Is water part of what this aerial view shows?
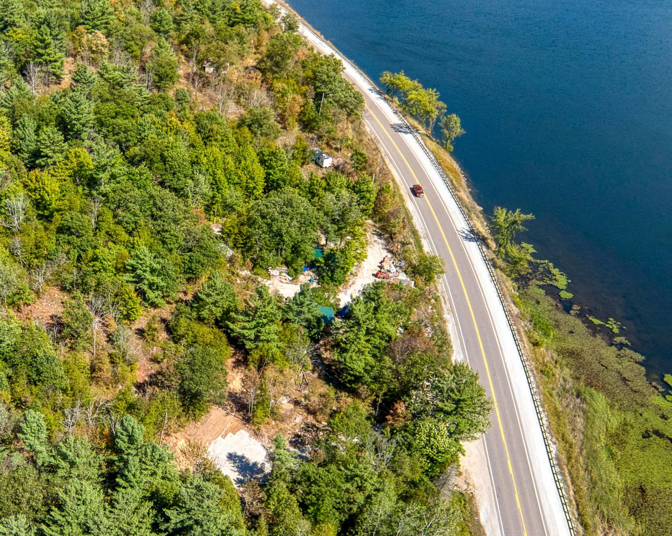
Yes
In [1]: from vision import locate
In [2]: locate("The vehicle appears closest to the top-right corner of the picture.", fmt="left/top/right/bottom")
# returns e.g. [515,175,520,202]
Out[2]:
[413,183,426,195]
